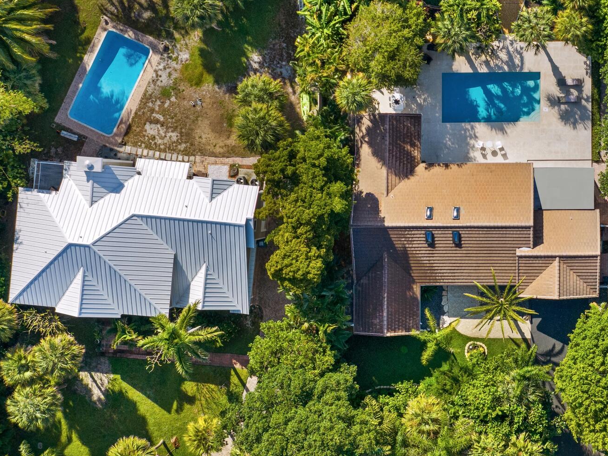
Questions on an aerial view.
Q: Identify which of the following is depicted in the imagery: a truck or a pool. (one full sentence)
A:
Visible in the photo is a pool.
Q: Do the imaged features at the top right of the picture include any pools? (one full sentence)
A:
Yes, looking at the top right of the picture, one can make out a pool.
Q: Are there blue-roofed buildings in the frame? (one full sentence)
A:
No, there appears to be no blue-roofed building in this shot.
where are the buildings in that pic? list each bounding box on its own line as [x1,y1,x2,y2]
[8,155,267,318]
[351,114,601,337]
